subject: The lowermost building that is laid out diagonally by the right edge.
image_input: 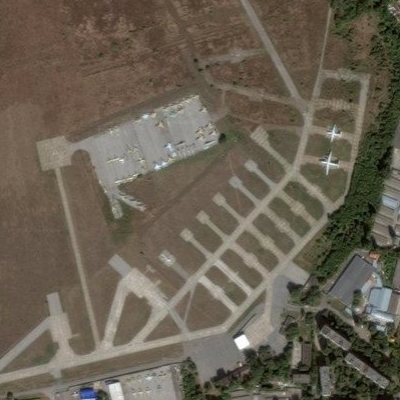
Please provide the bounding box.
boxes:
[345,354,389,388]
